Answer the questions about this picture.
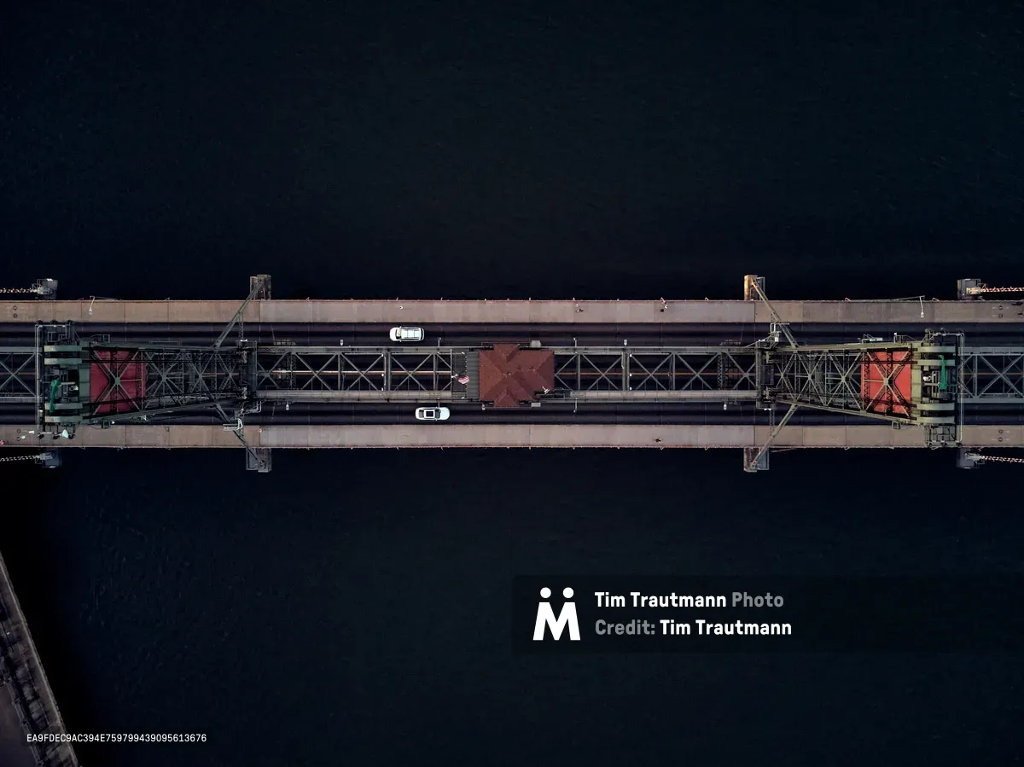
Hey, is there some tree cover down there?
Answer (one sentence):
No, there is no tree cover in the image.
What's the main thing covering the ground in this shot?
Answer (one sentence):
The bulk of the photo consists of water.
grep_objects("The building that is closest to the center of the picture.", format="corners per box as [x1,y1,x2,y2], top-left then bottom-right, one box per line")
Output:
[451,341,564,408]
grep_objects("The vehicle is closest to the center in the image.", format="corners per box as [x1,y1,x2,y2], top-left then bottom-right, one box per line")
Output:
[416,407,449,421]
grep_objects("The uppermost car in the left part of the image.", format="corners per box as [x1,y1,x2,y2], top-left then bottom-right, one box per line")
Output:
[389,326,424,342]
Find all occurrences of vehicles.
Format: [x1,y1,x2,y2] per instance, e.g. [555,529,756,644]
[389,326,424,342]
[416,407,449,421]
